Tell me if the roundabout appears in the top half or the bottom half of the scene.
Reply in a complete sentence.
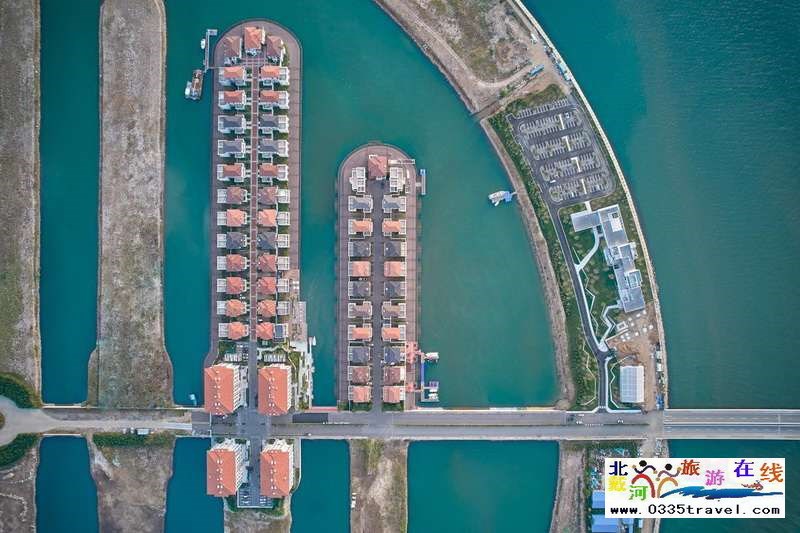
The roundabout is in the bottom half of the image.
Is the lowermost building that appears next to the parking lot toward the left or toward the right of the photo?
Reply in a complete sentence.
It is on the right.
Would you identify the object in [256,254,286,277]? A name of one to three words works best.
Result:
house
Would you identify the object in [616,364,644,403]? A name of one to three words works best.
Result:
building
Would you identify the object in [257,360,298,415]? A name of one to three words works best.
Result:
building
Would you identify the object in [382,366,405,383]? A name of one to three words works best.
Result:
house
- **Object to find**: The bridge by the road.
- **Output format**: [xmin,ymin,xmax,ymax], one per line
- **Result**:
[667,410,800,442]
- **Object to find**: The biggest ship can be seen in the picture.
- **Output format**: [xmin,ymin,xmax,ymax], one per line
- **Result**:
[191,70,205,99]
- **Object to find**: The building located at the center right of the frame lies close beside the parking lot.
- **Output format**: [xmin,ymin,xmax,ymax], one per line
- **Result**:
[570,204,645,313]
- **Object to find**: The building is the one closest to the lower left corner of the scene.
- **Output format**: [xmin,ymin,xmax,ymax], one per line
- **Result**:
[205,438,250,495]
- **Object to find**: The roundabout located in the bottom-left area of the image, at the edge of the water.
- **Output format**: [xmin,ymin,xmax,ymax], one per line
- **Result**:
[0,396,55,445]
